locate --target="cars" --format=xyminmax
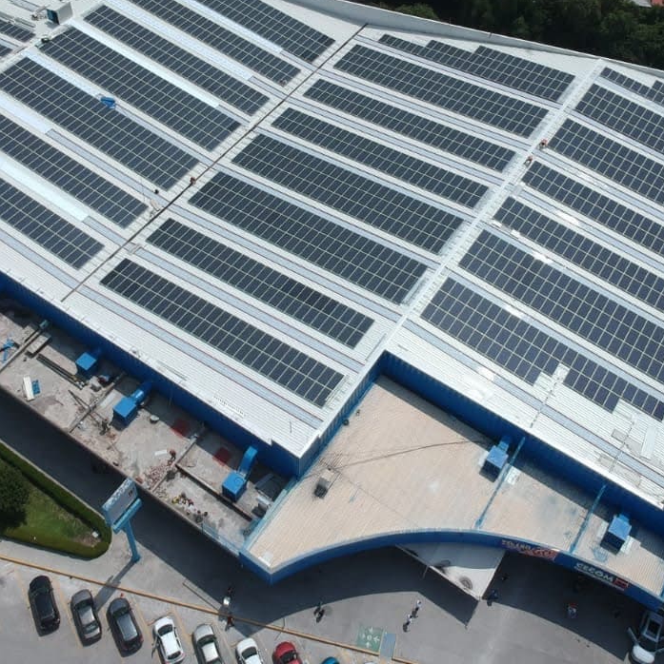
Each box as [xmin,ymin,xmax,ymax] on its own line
[106,599,148,659]
[150,616,188,664]
[268,639,300,664]
[68,589,107,647]
[187,620,230,664]
[626,607,664,664]
[25,576,63,637]
[230,633,265,664]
